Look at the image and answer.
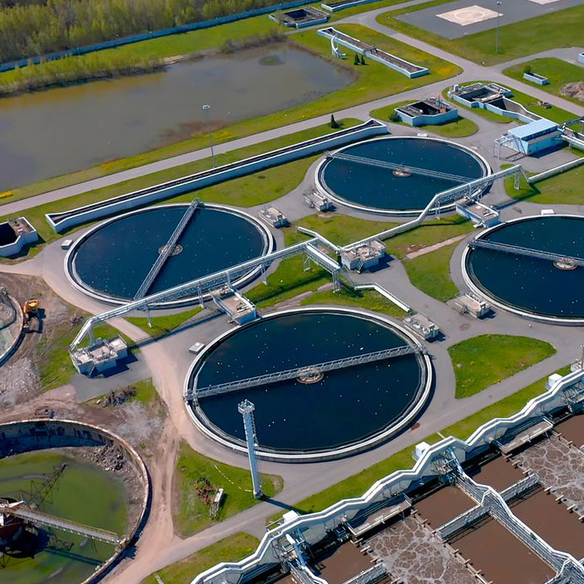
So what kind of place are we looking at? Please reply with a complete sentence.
It's an industrial area.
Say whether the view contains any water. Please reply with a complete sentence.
Yes, water shows up in the scene.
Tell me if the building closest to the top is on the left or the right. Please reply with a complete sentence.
You can find the building closest to the top on the right side of the picture.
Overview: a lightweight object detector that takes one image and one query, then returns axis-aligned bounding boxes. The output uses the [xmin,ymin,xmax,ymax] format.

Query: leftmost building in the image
[63,327,123,378]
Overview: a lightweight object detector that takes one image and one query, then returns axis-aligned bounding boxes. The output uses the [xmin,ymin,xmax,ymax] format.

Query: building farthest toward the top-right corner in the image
[493,117,566,162]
